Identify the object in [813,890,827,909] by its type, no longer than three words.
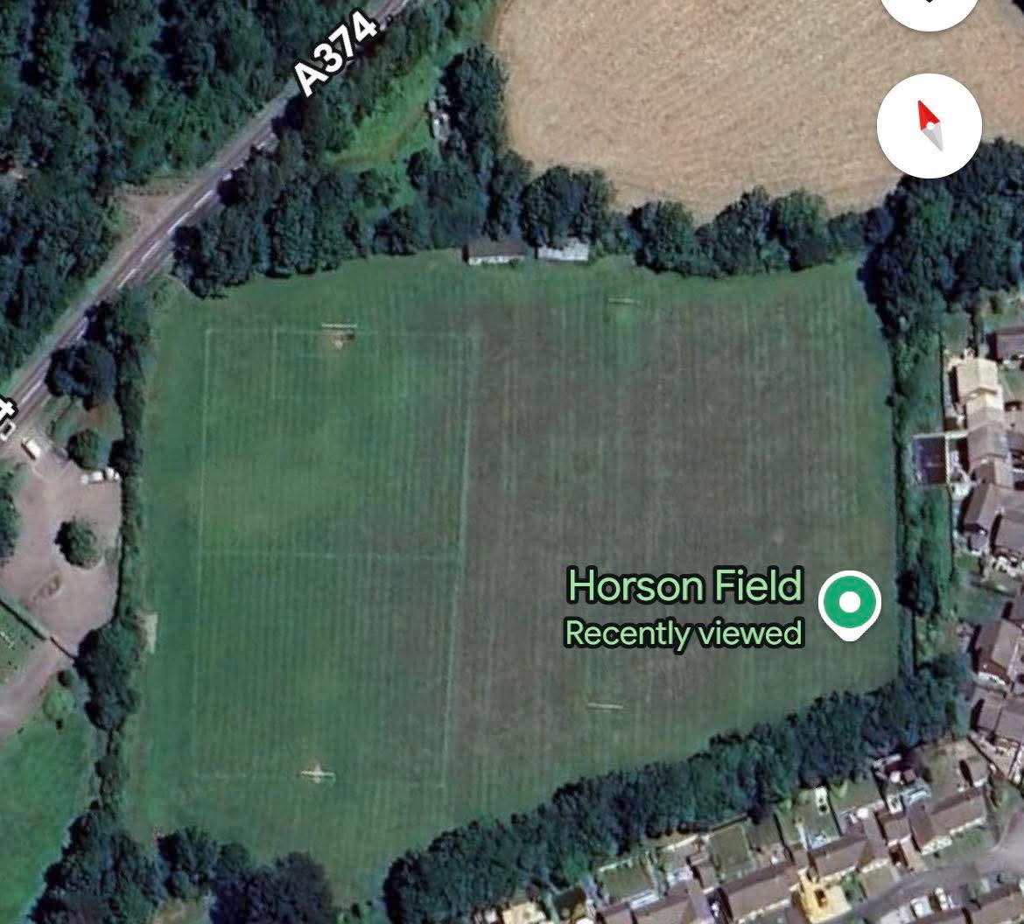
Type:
car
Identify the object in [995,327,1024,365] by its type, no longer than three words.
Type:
house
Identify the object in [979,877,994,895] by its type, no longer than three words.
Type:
car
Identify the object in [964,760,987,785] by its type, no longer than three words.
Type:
building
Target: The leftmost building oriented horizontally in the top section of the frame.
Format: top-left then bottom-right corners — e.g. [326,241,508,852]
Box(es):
[469,242,524,261]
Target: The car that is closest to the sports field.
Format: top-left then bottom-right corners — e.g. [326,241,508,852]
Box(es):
[103,469,121,481]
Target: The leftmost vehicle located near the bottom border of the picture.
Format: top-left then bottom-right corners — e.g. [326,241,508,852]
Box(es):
[709,901,723,920]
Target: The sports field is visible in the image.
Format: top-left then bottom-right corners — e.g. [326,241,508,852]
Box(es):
[114,250,905,924]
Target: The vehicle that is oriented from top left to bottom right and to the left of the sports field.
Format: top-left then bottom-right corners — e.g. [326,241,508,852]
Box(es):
[23,437,43,458]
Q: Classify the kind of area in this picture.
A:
sports ground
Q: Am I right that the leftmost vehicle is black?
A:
No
